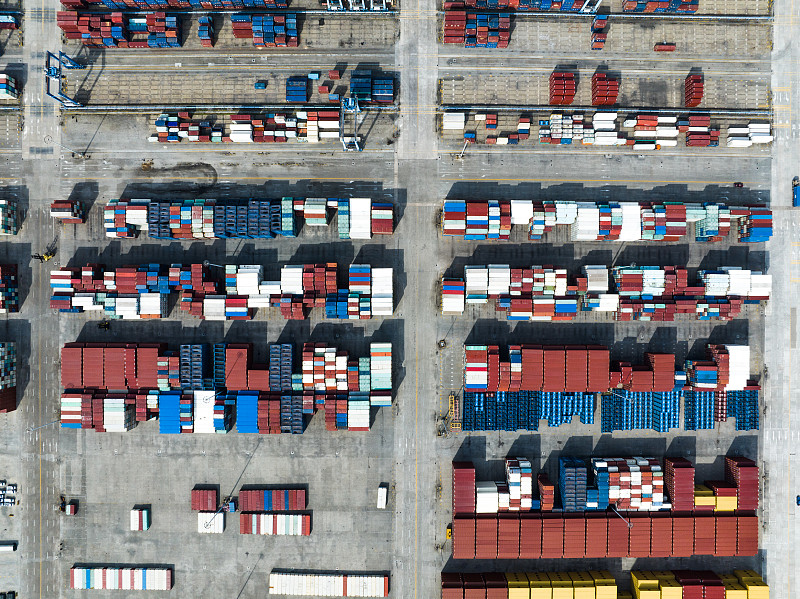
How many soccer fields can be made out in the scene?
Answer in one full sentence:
The photo contains no soccer fields.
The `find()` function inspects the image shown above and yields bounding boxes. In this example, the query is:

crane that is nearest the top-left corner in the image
[45,48,86,109]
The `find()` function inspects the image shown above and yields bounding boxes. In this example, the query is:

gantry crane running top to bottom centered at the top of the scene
[338,94,363,152]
